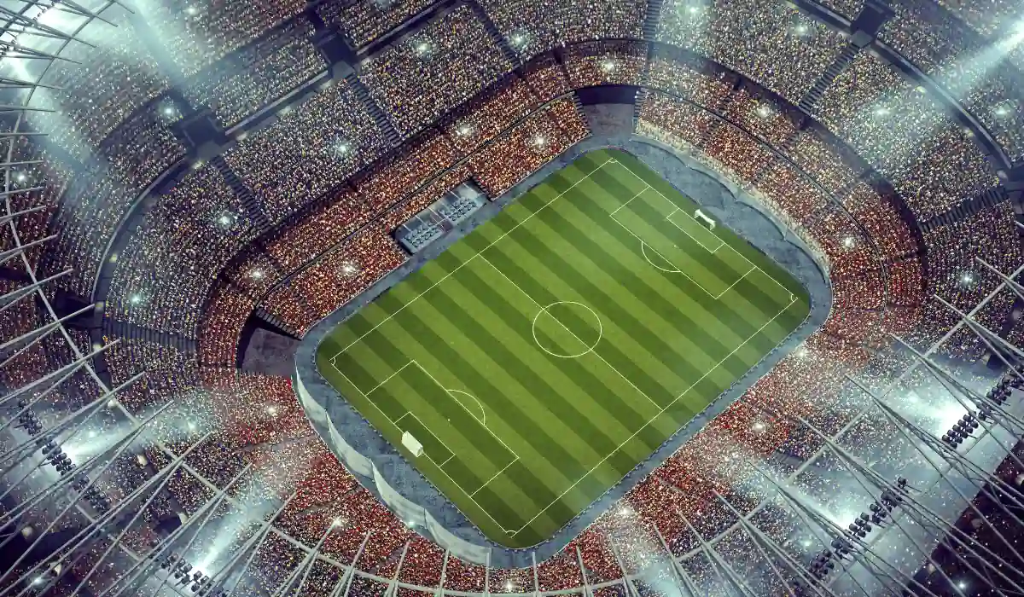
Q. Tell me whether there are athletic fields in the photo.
Yes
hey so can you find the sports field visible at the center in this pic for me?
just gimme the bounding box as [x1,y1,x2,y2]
[318,150,810,549]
